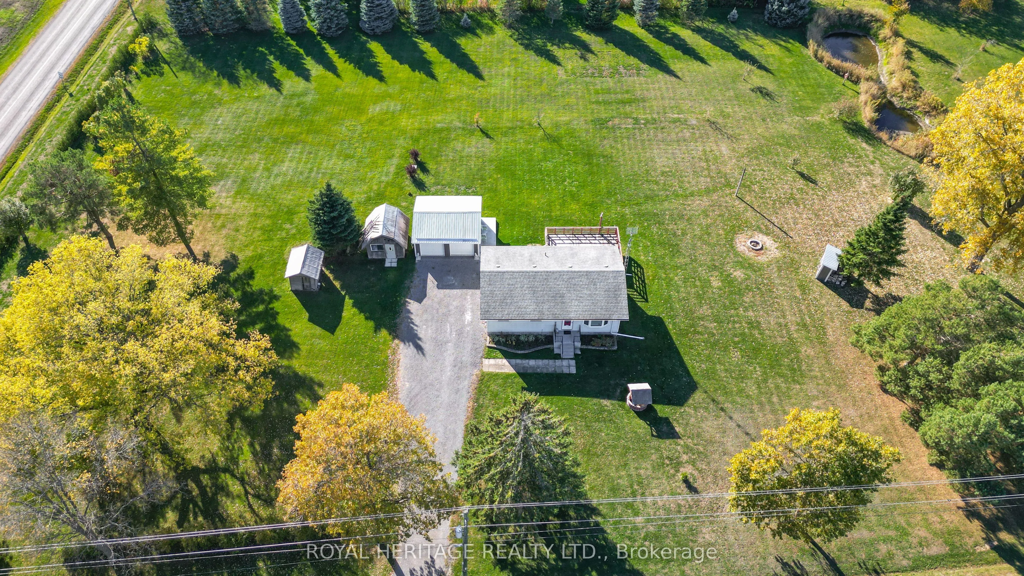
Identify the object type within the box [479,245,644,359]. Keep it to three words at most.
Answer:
house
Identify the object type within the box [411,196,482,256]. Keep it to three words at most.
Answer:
building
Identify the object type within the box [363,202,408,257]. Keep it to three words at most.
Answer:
shed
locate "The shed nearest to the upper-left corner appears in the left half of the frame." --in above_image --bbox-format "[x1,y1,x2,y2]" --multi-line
[281,244,321,291]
